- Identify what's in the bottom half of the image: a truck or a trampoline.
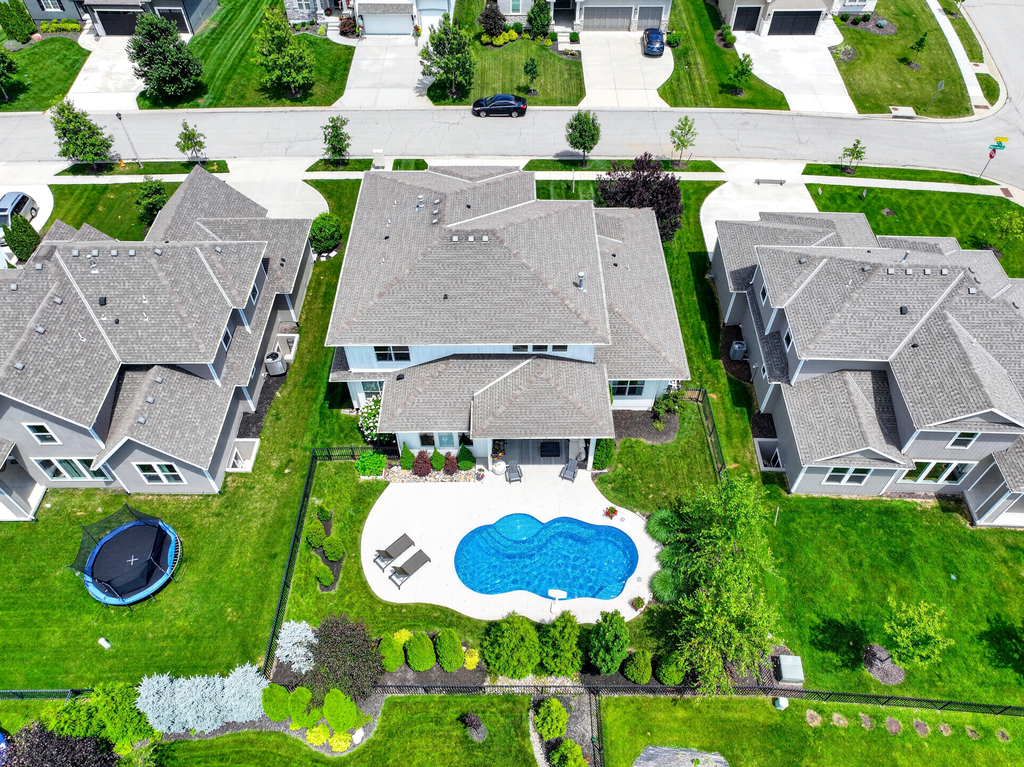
trampoline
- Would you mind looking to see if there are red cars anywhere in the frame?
No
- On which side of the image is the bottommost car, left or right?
left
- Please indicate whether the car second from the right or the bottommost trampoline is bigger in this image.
the trampoline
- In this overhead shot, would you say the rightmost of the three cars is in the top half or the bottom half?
top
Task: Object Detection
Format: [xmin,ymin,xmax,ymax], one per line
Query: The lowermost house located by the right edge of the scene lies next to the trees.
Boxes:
[712,212,1024,532]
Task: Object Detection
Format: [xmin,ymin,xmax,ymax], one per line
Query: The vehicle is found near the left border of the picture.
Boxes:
[0,188,40,240]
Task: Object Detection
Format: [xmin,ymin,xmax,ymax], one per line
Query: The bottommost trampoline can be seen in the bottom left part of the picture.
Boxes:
[67,508,185,613]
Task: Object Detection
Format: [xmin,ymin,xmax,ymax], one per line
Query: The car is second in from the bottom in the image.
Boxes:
[469,91,524,116]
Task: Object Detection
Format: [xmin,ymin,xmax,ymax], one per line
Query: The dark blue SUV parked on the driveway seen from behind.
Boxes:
[643,27,668,57]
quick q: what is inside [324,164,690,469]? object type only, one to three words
house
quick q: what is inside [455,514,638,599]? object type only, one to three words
swimming pool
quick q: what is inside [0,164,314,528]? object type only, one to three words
house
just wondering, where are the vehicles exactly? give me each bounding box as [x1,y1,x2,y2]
[0,188,40,240]
[469,91,524,116]
[643,27,668,57]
